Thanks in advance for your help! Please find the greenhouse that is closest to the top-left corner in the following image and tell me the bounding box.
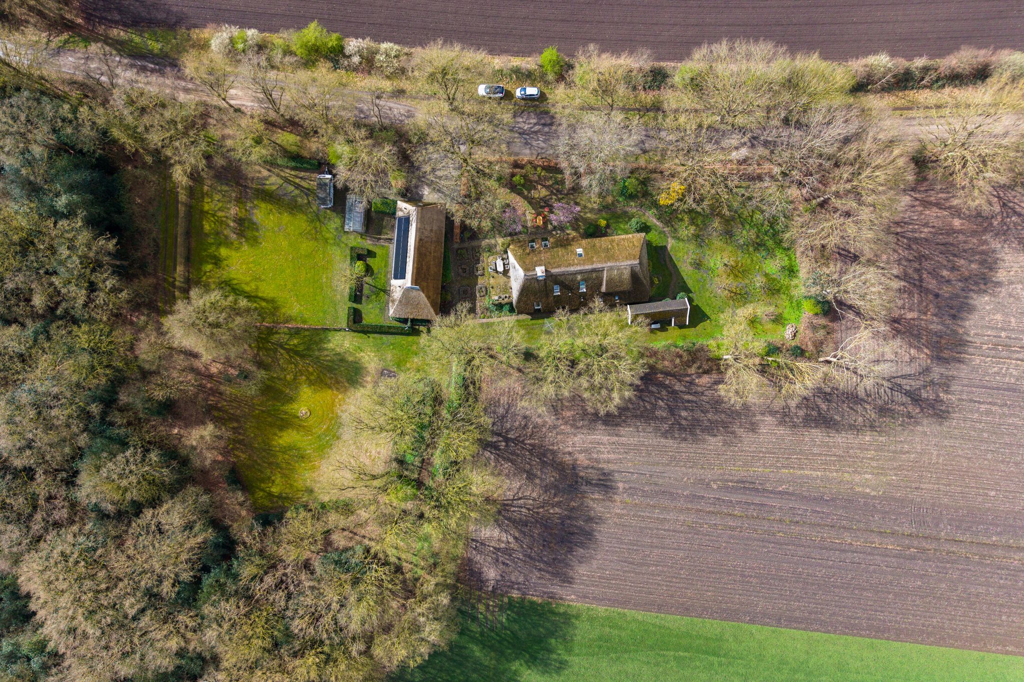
[344,195,369,234]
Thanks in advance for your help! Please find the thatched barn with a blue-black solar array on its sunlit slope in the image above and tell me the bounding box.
[390,201,446,318]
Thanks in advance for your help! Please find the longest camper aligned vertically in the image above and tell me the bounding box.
[317,169,334,208]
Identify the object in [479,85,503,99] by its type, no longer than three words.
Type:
car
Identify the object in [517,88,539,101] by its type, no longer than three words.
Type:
vehicle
